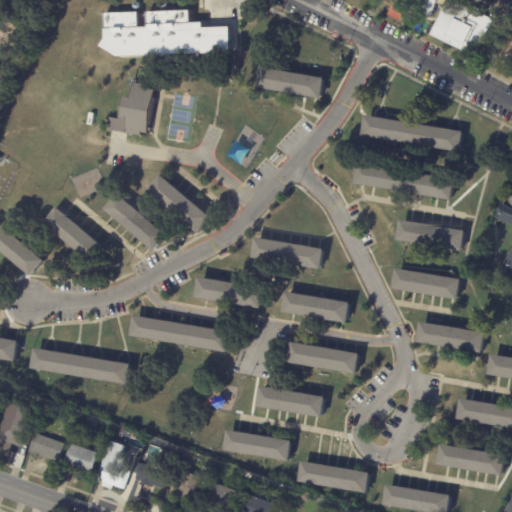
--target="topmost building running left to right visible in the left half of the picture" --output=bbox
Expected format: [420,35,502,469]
[100,10,230,58]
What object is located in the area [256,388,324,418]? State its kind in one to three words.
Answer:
building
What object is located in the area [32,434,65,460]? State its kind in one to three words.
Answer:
house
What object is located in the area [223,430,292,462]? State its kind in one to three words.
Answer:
building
